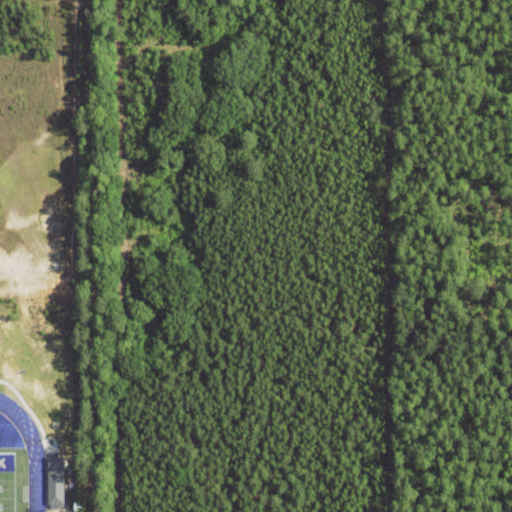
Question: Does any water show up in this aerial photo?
No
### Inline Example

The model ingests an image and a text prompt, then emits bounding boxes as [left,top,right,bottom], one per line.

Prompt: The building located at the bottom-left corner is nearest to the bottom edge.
[48,456,65,509]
